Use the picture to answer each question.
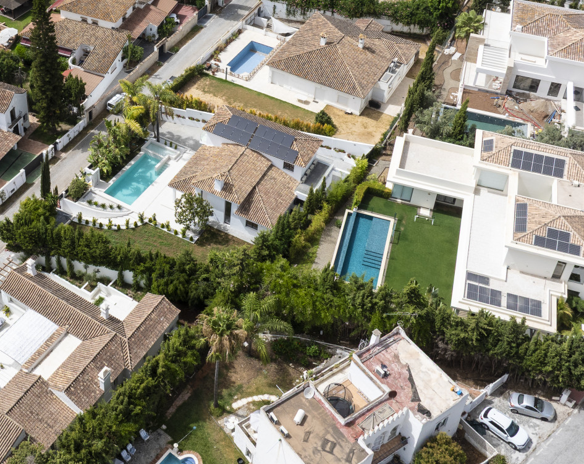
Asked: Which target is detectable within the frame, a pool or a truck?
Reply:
pool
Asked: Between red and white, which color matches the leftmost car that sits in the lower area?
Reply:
white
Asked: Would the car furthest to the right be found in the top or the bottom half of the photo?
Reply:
bottom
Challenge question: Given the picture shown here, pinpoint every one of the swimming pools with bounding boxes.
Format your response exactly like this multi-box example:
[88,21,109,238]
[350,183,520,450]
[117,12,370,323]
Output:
[225,38,277,75]
[140,137,184,160]
[152,444,200,464]
[98,148,174,208]
[425,99,532,139]
[326,205,397,293]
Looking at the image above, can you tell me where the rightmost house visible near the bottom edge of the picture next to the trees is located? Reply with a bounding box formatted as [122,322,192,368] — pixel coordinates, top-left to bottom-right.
[233,322,468,464]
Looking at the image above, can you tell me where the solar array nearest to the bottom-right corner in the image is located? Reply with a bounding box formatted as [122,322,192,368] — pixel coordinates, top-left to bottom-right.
[508,292,543,317]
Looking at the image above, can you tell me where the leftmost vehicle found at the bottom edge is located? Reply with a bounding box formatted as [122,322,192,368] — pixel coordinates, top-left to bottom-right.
[477,406,531,450]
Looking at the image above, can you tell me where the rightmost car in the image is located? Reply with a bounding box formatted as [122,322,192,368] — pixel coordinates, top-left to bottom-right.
[508,390,557,426]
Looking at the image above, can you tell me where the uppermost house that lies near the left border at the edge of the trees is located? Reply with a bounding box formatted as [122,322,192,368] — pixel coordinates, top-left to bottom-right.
[20,0,177,100]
